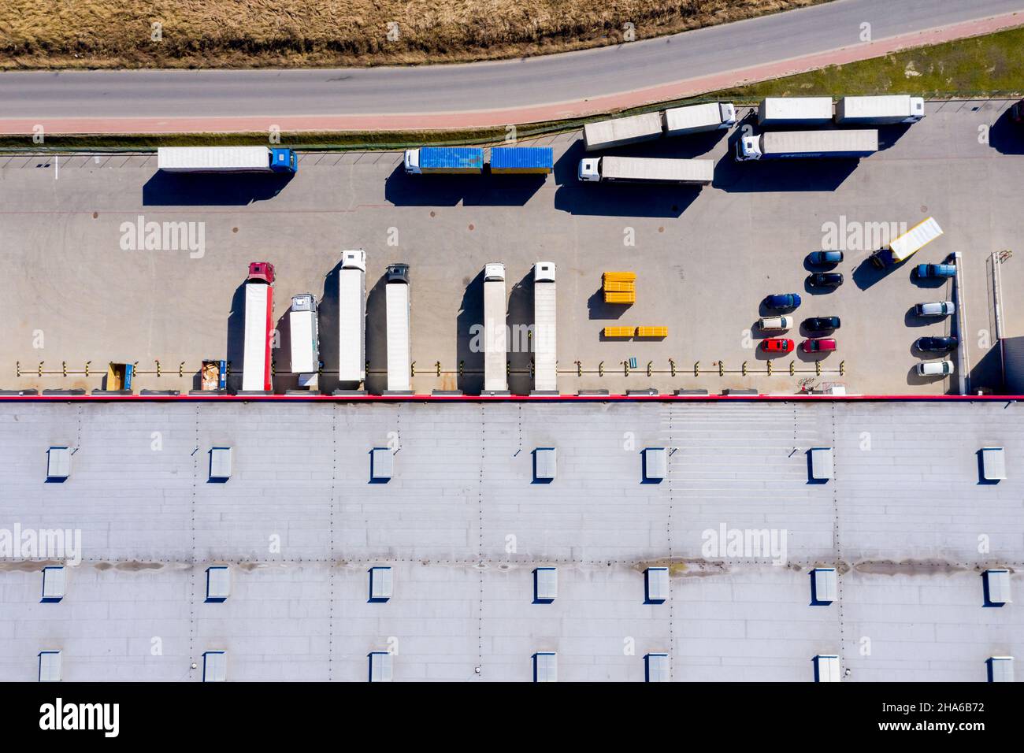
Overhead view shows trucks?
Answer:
Yes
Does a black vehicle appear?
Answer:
Yes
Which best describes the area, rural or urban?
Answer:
urban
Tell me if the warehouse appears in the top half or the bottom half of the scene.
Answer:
bottom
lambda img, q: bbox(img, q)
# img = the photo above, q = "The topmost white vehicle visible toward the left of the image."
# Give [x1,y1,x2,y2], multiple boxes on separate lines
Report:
[157,149,300,179]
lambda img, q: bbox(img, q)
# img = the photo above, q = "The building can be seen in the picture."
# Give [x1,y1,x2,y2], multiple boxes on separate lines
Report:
[0,336,1024,753]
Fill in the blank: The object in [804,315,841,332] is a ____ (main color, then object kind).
black car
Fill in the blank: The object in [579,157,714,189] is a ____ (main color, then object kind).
white truck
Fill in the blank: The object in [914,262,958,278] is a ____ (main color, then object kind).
blue vehicle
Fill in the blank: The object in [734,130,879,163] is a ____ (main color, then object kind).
white truck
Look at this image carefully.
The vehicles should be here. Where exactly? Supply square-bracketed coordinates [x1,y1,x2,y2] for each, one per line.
[579,157,714,189]
[801,337,838,354]
[484,261,507,390]
[339,249,367,384]
[764,291,801,309]
[290,295,320,388]
[915,335,958,353]
[761,337,794,354]
[914,262,958,278]
[581,103,737,150]
[914,299,954,317]
[386,263,413,390]
[865,216,943,273]
[1007,97,1024,124]
[243,263,277,390]
[809,270,844,287]
[157,149,300,179]
[808,248,844,265]
[734,130,879,163]
[915,359,953,376]
[804,315,841,332]
[533,262,557,390]
[404,148,553,176]
[758,314,794,332]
